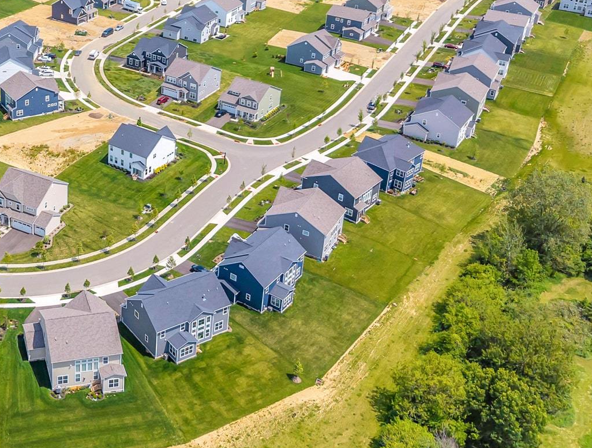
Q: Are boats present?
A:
No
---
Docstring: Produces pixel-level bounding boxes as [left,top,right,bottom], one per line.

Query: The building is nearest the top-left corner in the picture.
[0,21,40,57]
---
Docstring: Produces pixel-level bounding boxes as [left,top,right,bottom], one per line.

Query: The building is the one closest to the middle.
[262,189,346,260]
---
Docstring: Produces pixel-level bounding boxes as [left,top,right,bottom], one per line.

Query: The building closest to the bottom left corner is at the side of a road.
[24,291,127,395]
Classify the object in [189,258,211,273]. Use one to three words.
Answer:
car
